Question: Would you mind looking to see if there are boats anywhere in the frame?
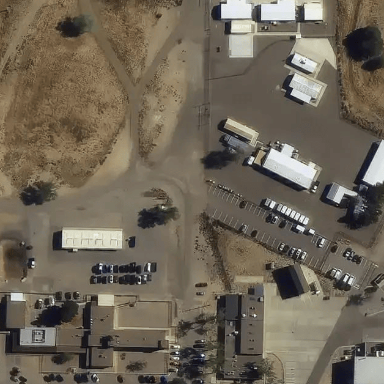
No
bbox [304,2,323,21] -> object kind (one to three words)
shed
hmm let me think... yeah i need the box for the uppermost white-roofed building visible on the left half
[61,228,123,251]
